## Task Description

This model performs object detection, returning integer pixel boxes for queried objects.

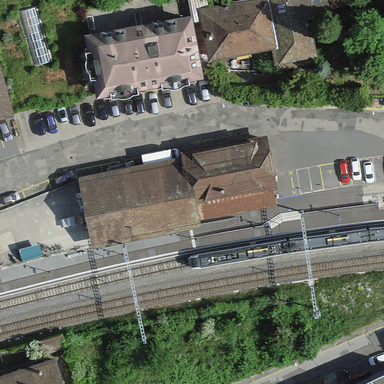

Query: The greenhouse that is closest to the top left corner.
[20,6,53,66]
